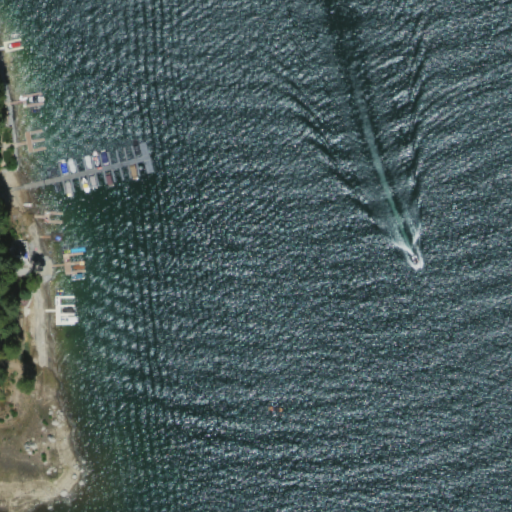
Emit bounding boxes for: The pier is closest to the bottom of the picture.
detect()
[44,296,78,326]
